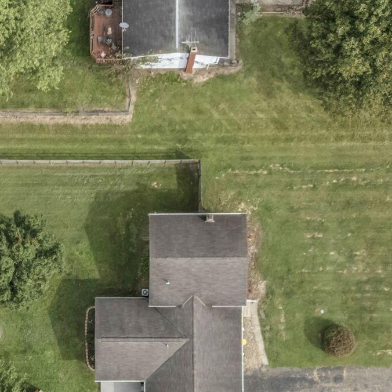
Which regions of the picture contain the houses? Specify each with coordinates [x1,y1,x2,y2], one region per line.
[122,0,230,74]
[95,211,257,392]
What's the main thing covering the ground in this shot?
grass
